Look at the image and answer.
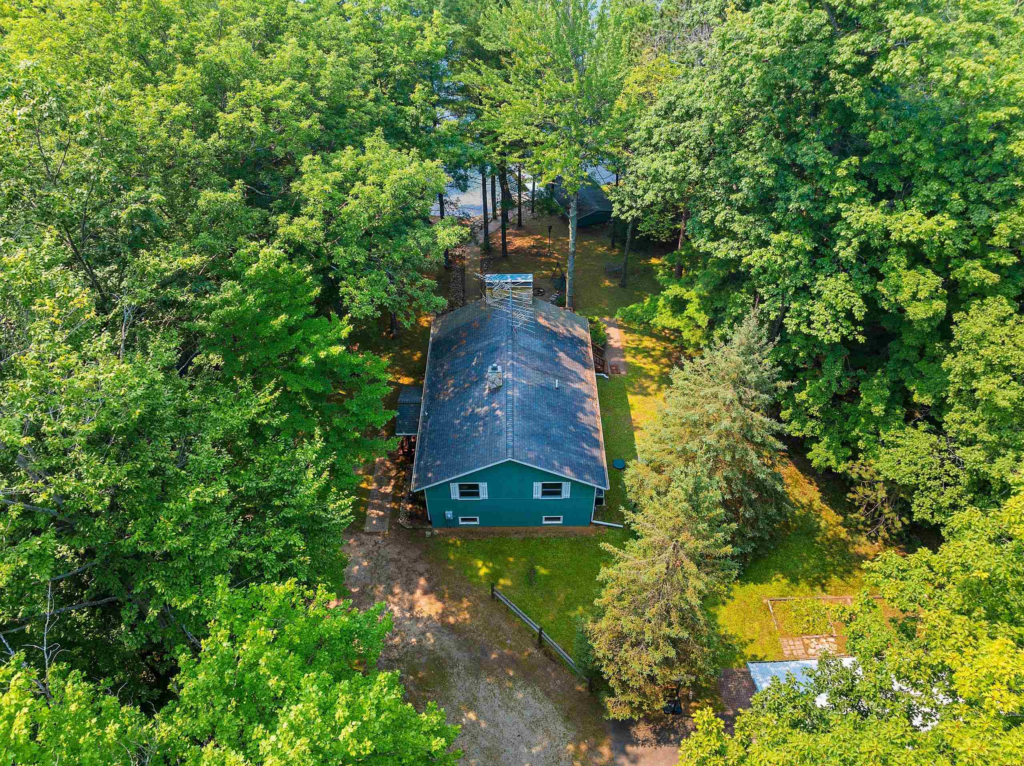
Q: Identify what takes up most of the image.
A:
trees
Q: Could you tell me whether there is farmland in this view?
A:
No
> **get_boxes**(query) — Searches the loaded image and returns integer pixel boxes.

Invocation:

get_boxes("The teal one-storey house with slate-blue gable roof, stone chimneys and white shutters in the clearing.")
[395,271,623,530]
